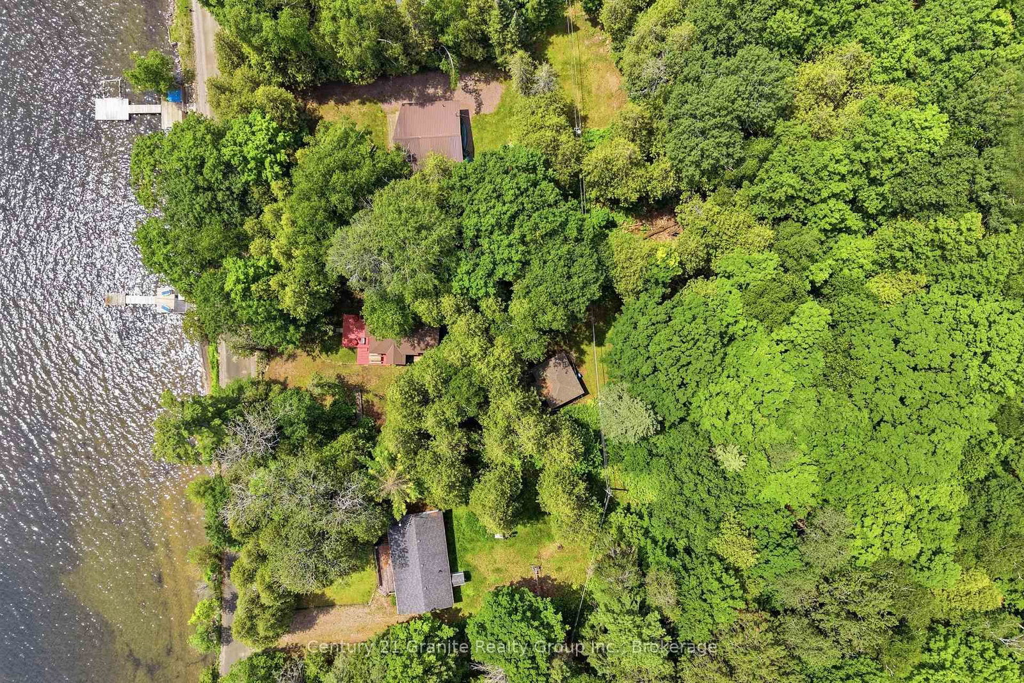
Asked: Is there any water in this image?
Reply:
Yes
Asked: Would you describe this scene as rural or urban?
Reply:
rural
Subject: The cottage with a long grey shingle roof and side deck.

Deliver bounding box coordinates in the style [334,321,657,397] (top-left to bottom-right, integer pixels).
[377,509,466,614]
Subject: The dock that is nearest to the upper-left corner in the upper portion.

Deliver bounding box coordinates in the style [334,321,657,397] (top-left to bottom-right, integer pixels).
[95,89,185,130]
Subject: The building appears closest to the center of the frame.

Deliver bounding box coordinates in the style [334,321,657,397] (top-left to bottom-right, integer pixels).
[532,352,585,409]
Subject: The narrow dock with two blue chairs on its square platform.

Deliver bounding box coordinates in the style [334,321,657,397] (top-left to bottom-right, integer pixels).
[104,287,194,313]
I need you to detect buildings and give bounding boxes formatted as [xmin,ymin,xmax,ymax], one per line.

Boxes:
[341,312,439,365]
[391,95,462,182]
[377,509,466,614]
[532,352,585,409]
